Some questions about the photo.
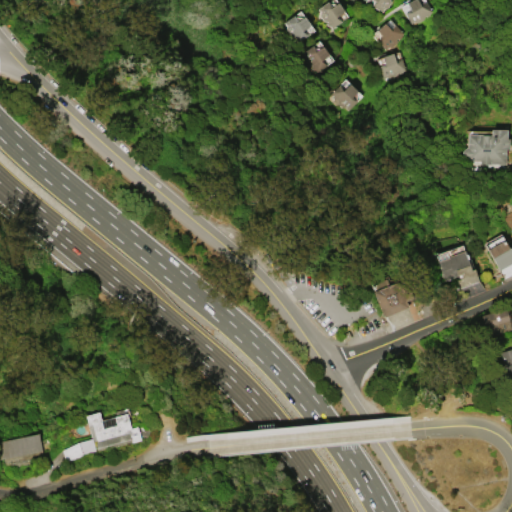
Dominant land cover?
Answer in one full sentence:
What you mostly see from above here is trees.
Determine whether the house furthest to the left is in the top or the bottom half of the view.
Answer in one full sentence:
The bottom half of the photo is where the house furthest to the left is.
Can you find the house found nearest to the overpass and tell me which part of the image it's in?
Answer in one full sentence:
You can find the house found nearest to the overpass in the bottom left area of the picture.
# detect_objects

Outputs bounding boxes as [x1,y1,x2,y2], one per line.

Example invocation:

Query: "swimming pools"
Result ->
[72,424,91,440]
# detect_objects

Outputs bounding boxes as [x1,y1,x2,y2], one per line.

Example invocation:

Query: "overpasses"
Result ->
[186,416,412,454]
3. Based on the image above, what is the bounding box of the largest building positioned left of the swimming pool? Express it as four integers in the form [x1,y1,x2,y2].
[1,434,43,466]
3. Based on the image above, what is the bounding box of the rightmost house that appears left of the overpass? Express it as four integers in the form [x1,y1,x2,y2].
[64,412,142,460]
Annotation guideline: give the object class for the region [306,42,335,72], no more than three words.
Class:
house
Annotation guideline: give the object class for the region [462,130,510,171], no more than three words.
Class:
house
